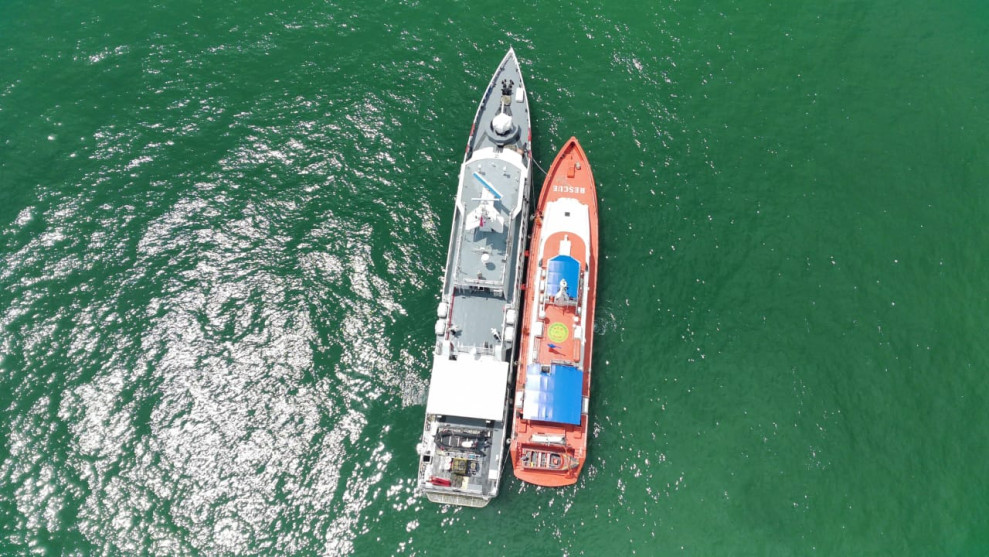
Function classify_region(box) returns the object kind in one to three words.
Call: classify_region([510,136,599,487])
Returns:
ship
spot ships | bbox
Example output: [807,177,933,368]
[416,44,530,509]
[510,136,599,487]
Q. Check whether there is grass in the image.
No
